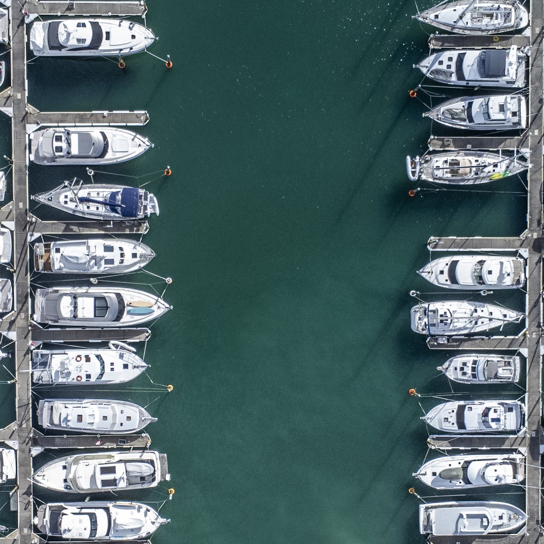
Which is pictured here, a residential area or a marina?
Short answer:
marina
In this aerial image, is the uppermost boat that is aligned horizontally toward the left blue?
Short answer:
No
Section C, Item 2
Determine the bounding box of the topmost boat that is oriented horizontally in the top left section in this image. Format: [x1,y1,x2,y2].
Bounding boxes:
[31,18,160,60]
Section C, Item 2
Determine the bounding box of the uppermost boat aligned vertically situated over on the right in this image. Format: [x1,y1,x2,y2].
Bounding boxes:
[406,152,420,180]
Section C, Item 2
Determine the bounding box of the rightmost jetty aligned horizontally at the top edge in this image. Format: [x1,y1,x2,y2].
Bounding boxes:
[427,25,530,59]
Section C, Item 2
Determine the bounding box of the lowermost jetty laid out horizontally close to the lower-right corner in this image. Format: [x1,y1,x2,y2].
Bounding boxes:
[426,524,526,544]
